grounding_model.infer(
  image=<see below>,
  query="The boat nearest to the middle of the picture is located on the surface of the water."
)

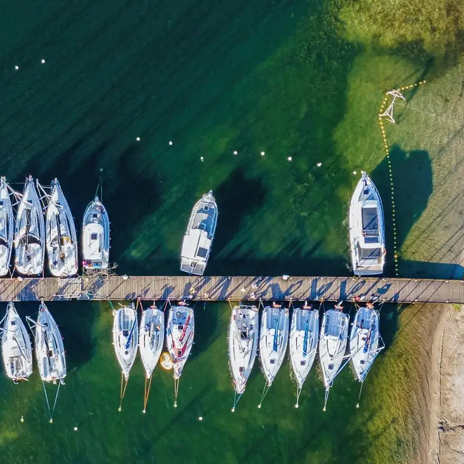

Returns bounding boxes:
[180,189,220,275]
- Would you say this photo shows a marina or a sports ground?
marina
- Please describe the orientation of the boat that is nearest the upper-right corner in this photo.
vertically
